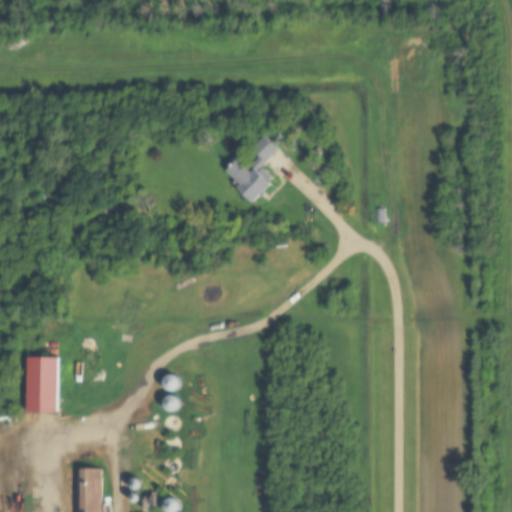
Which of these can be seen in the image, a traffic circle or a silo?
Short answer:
silo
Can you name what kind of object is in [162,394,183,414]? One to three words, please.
silo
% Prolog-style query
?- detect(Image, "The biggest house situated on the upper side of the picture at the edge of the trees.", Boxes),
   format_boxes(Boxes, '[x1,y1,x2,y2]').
[224,138,278,203]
